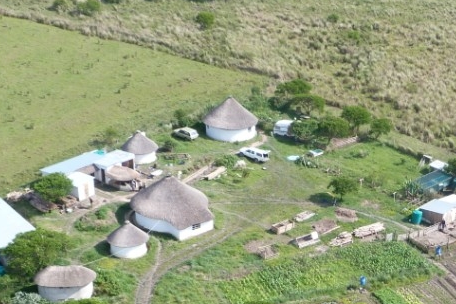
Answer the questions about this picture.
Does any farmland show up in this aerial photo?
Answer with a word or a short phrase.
Yes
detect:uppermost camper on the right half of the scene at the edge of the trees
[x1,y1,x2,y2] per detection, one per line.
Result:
[271,120,297,139]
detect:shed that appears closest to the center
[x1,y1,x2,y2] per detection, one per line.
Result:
[202,95,259,143]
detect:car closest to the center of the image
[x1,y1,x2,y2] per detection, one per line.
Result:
[238,144,271,163]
